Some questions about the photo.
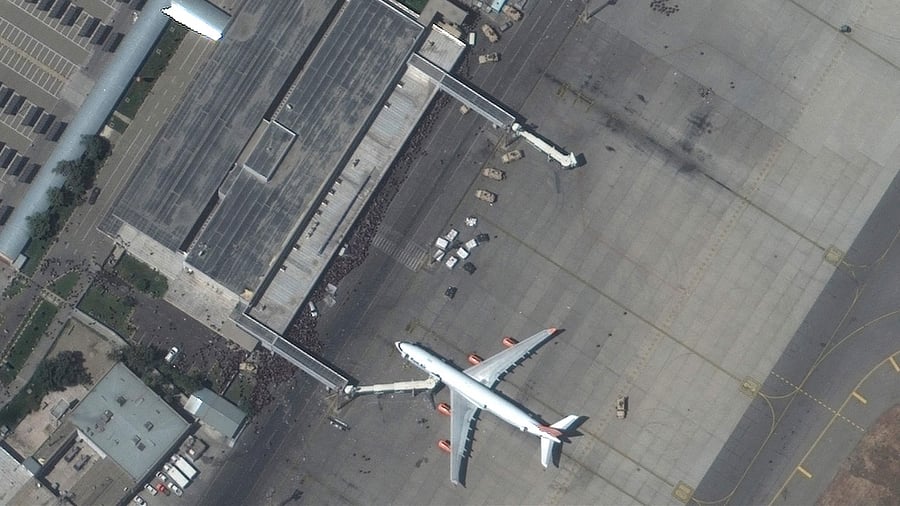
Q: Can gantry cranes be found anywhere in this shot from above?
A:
No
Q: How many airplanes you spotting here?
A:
one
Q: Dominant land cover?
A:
paved ground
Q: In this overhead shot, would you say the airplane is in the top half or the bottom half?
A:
bottom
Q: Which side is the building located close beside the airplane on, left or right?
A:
left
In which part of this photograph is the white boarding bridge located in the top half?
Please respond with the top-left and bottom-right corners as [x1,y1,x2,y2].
[511,124,578,168]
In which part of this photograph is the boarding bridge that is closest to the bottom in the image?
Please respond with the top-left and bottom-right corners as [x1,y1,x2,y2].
[345,372,442,400]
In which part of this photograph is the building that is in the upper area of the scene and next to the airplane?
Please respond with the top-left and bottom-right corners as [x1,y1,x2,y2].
[97,0,467,354]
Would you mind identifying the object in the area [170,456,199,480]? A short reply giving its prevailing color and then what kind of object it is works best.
white truck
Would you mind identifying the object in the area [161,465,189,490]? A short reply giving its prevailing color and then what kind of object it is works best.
white truck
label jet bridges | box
[345,372,442,400]
[511,124,578,168]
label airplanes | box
[395,329,579,486]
